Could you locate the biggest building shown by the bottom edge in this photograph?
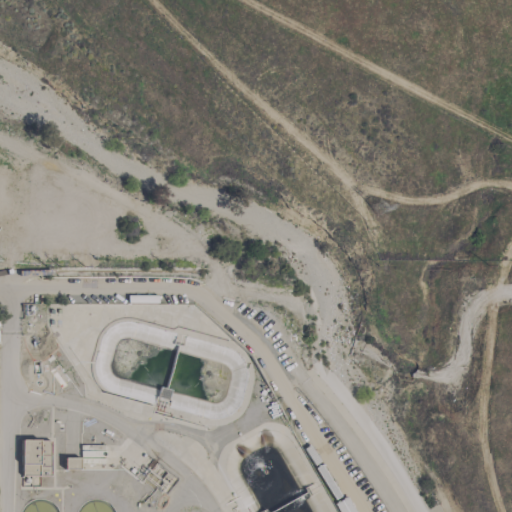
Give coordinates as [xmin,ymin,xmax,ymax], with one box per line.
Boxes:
[22,440,54,487]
